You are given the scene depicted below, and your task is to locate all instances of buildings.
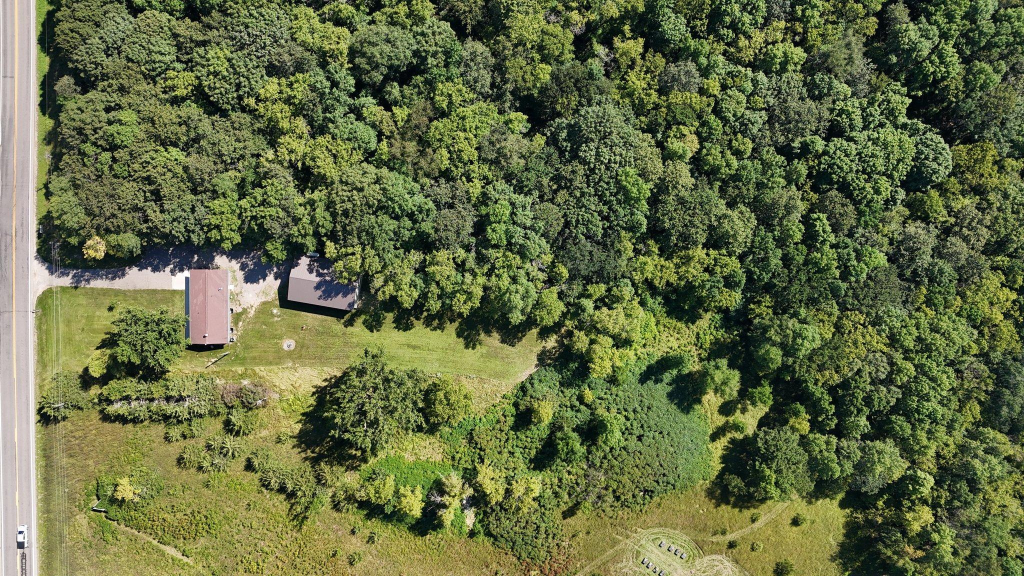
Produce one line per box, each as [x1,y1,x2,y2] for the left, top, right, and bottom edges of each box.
[190,269,236,345]
[288,254,360,310]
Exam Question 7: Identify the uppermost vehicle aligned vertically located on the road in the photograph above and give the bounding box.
[16,523,29,550]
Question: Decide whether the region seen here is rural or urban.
rural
